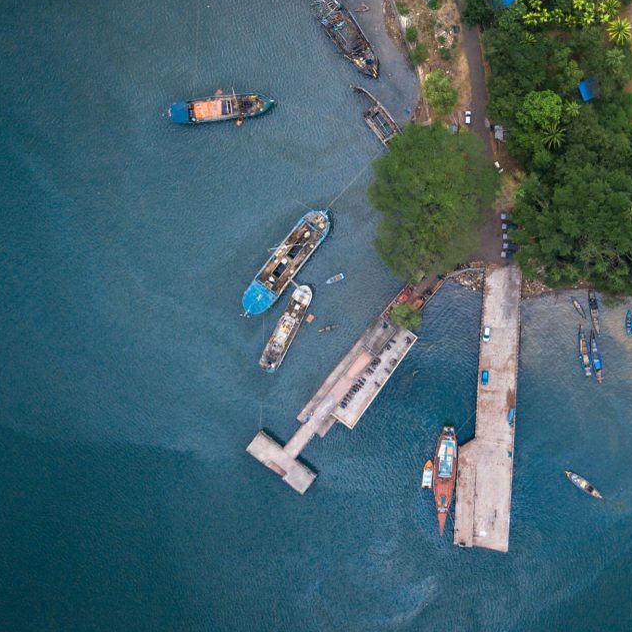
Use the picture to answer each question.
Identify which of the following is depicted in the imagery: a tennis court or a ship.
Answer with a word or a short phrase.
ship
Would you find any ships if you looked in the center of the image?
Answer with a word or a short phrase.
Yes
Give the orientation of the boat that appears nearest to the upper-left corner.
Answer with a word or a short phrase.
horizontally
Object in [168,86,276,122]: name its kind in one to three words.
boat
